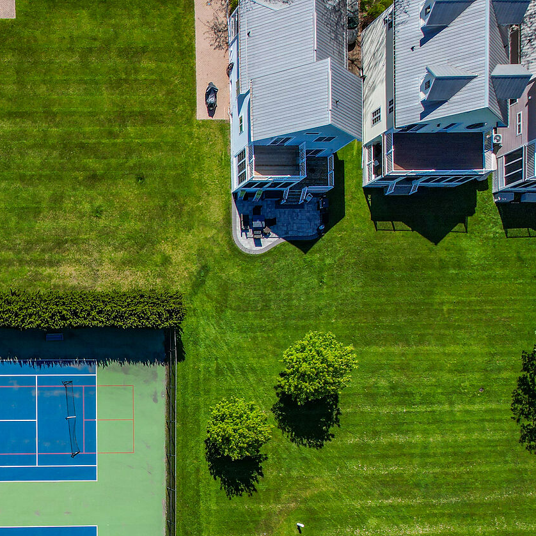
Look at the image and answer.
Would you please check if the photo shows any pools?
No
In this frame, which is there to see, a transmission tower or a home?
home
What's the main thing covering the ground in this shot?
grass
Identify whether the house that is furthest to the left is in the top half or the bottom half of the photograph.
top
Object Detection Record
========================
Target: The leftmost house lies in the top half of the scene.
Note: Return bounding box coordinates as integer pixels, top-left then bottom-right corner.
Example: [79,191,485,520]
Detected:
[221,0,362,206]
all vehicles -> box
[209,82,224,108]
[345,0,363,47]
